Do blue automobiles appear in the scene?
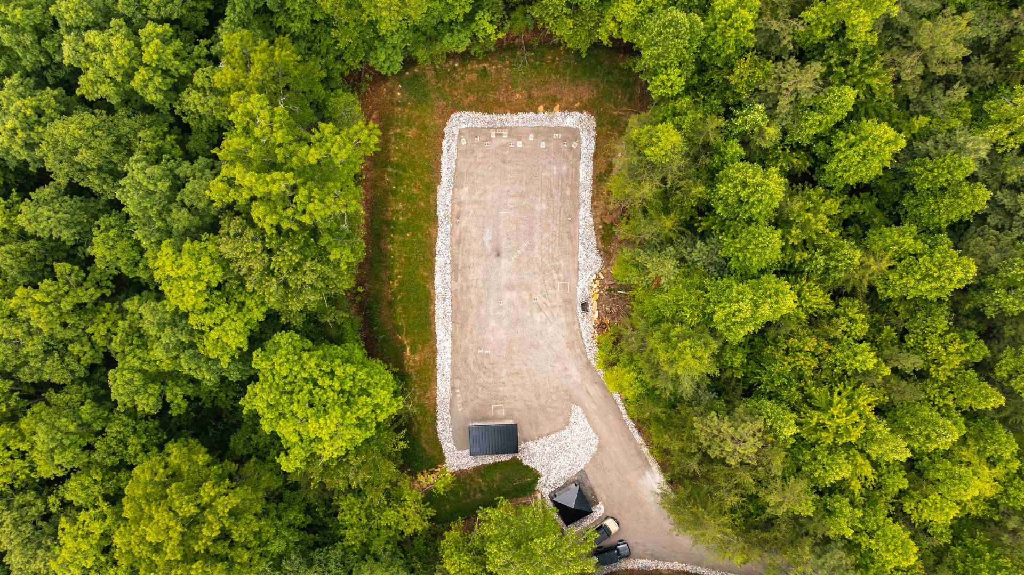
No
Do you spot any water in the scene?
No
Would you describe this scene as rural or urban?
rural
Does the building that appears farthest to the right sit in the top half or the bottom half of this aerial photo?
bottom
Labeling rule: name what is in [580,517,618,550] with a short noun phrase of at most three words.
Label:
car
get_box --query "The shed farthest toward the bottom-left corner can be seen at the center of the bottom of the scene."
[468,419,519,457]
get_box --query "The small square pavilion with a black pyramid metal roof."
[552,482,593,525]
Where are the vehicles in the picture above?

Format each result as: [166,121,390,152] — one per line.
[595,540,632,568]
[580,517,618,550]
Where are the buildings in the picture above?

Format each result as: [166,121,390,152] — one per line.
[468,419,519,457]
[552,482,593,525]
